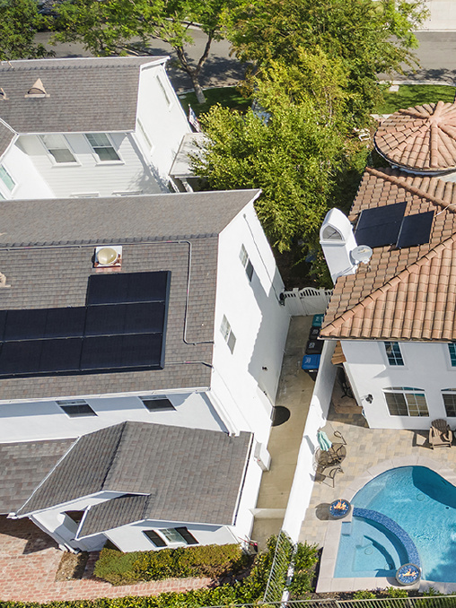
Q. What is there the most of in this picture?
buildings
